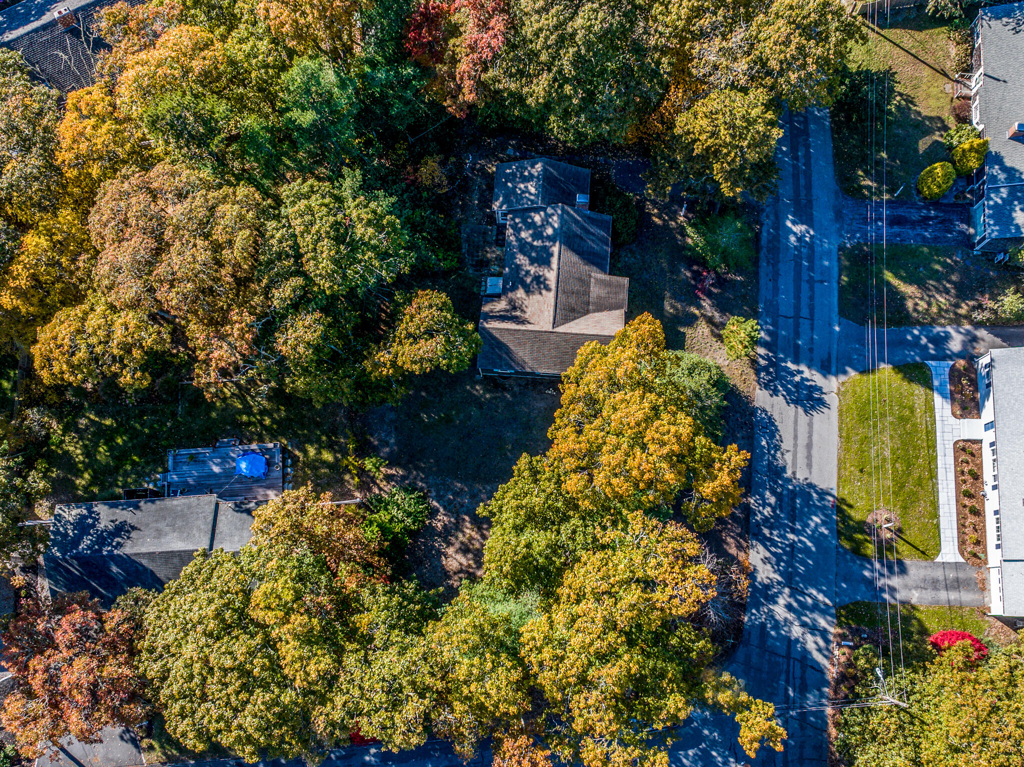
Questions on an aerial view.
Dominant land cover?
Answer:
trees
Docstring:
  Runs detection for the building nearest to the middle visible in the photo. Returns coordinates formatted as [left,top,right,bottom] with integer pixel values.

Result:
[475,153,630,385]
